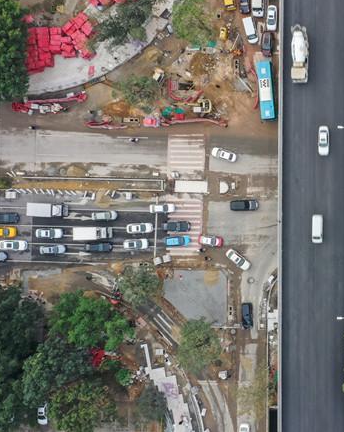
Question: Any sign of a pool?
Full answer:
No, no pool is visible in the view.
